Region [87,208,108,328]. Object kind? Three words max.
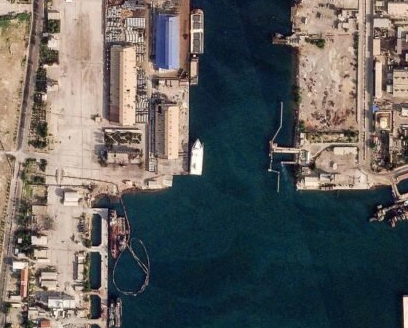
pier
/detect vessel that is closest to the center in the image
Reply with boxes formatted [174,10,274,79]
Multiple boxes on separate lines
[190,139,203,175]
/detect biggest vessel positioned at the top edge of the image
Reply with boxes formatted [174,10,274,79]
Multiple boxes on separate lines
[191,9,203,54]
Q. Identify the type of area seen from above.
port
